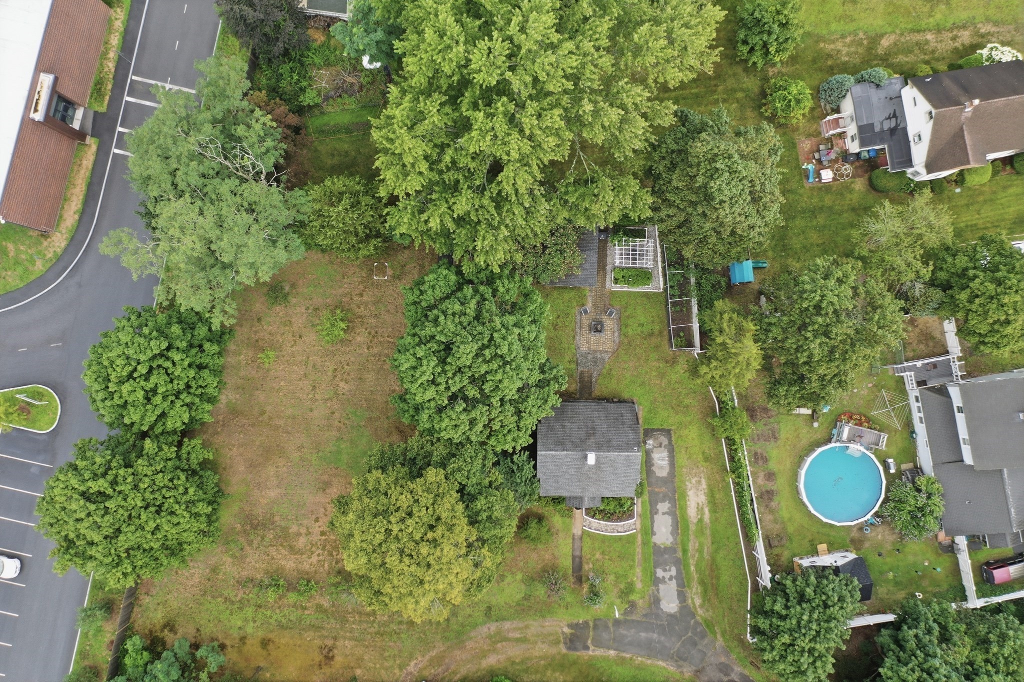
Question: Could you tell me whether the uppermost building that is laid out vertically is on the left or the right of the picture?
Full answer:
The uppermost building that is laid out vertically is on the left side of the image.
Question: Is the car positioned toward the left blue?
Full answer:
No, the car positioned toward the left is white.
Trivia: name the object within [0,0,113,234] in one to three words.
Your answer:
building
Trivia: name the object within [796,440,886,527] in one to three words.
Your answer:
swimming pool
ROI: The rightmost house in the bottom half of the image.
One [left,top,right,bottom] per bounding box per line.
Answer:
[905,366,1024,552]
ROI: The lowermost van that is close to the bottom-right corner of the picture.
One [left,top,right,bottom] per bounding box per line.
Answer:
[983,551,1024,585]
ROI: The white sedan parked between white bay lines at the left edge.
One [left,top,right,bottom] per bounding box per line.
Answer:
[0,557,20,580]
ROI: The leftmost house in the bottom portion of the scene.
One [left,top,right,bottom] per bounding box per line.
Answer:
[537,399,642,507]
